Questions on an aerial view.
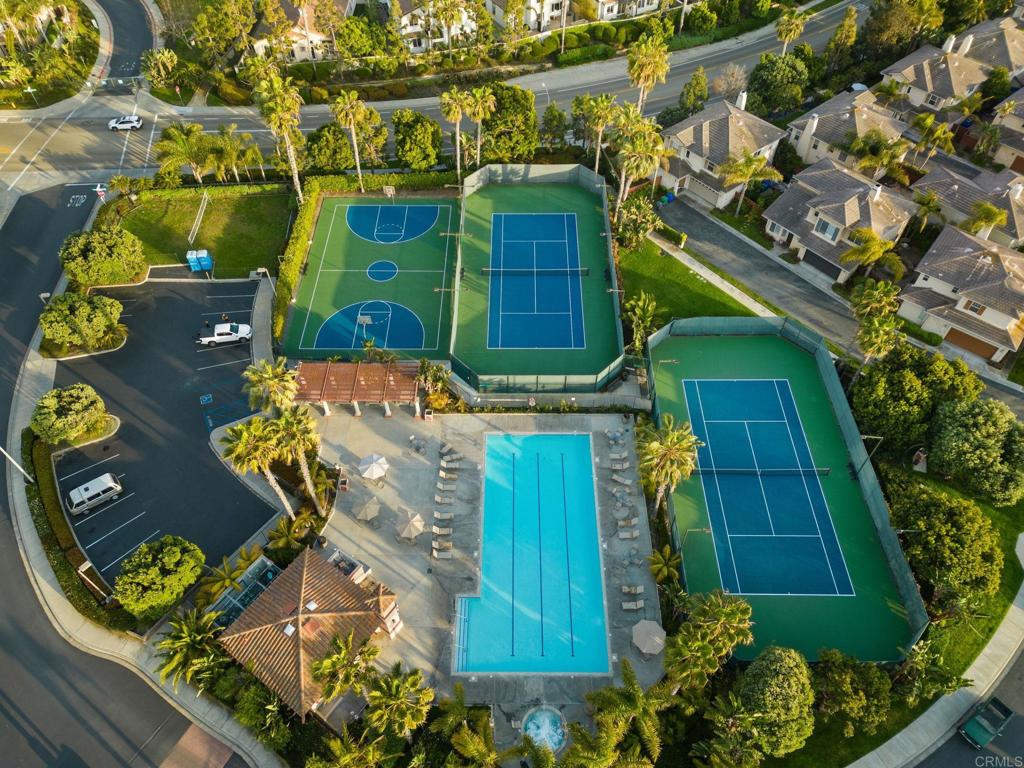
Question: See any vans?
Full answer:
Yes, this view includes a van.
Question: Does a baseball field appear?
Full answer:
No, I can see no baseball field in this picture.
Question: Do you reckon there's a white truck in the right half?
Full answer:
No, there's no white truck to be seen in the right half.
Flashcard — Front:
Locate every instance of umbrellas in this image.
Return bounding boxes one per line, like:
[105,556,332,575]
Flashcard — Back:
[359,458,388,483]
[629,620,667,658]
[352,498,382,524]
[395,512,425,539]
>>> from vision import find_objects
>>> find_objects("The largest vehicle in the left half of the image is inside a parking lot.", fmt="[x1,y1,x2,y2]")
[64,467,121,510]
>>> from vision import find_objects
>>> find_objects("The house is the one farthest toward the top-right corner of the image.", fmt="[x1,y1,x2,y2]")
[960,26,1024,117]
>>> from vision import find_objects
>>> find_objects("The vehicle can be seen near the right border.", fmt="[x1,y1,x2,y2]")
[957,693,1018,752]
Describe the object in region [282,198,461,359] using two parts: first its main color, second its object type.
green basketball court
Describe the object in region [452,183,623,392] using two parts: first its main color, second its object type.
green tennis court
